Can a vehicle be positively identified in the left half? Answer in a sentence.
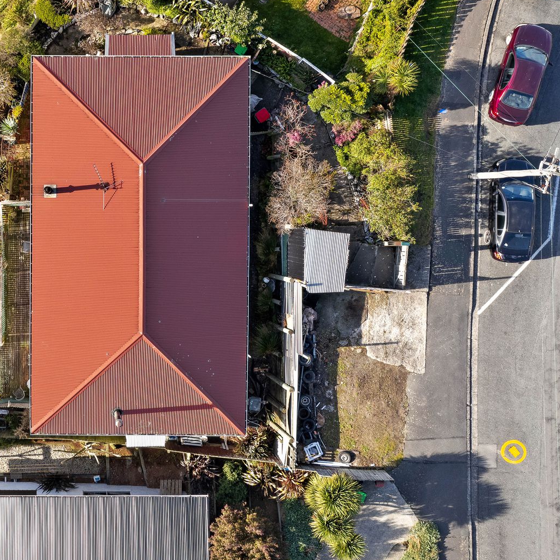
No, no vehicle is visible in the left half.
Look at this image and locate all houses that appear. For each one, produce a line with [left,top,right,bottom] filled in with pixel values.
[28,32,252,447]
[0,484,214,560]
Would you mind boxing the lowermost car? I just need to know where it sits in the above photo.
[488,162,539,261]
